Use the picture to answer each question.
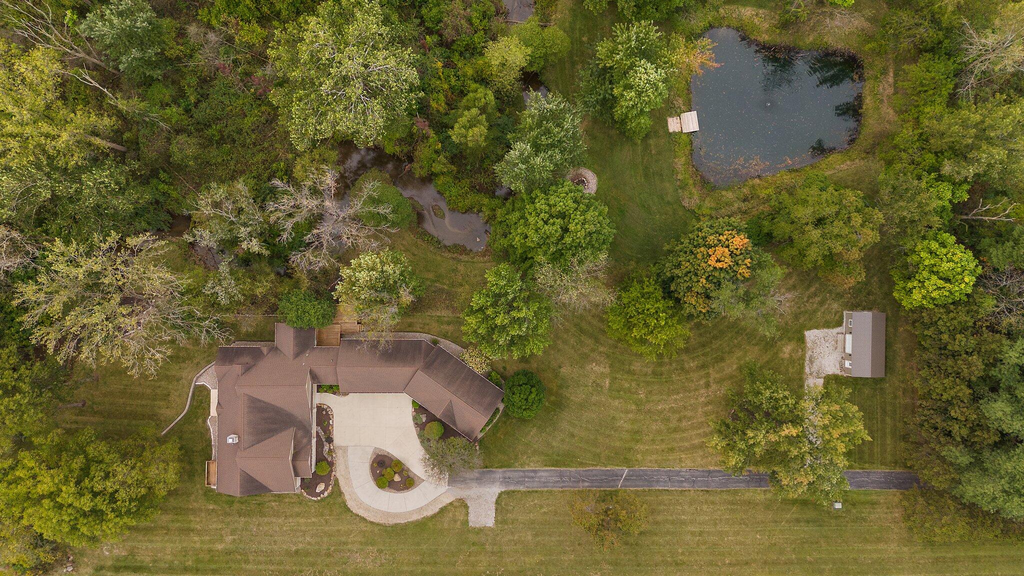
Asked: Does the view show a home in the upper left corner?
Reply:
No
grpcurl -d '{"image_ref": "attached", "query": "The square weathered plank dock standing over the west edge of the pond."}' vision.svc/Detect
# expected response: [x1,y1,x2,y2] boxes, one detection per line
[680,110,700,132]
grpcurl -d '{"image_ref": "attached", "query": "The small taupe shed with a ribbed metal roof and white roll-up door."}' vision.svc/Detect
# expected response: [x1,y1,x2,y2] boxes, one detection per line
[844,312,885,378]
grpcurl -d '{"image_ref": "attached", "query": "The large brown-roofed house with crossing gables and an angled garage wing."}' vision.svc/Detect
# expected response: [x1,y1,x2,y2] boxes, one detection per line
[213,322,506,496]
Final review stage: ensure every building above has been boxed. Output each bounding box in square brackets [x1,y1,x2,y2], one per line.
[844,312,885,378]
[213,322,506,496]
